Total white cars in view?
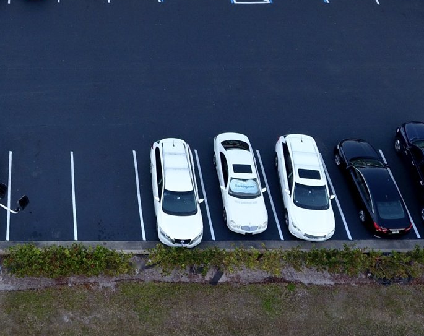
three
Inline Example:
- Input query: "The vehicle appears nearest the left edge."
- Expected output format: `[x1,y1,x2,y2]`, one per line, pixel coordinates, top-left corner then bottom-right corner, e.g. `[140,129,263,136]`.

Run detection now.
[150,140,209,245]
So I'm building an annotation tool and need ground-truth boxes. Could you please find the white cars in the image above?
[150,140,209,245]
[214,137,274,234]
[276,136,341,237]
